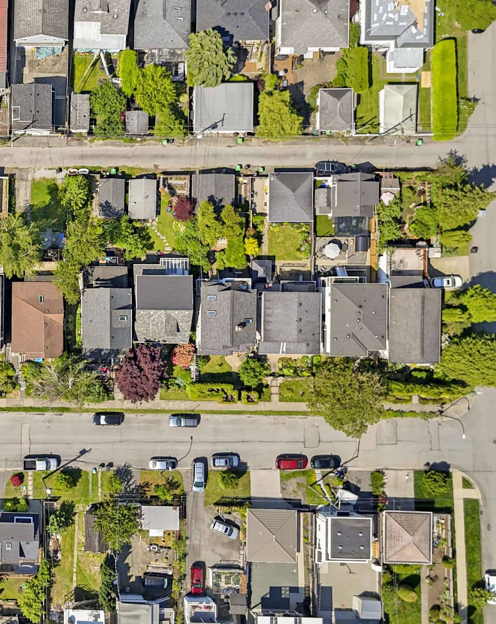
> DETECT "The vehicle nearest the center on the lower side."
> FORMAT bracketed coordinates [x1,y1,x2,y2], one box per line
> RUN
[167,413,200,428]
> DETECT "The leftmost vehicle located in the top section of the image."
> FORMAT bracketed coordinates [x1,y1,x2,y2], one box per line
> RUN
[314,161,345,176]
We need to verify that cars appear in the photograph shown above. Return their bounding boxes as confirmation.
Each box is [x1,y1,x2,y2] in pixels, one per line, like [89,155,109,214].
[191,459,207,493]
[141,572,174,589]
[274,455,307,469]
[146,457,178,471]
[309,455,341,469]
[430,275,462,289]
[22,457,59,472]
[90,412,123,426]
[209,453,240,468]
[167,413,200,428]
[482,569,496,605]
[470,26,485,37]
[208,518,241,539]
[314,161,345,176]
